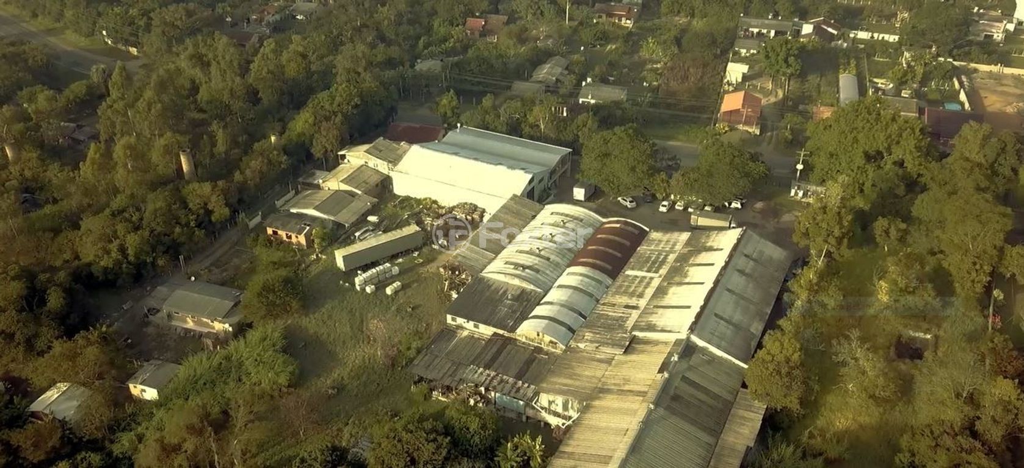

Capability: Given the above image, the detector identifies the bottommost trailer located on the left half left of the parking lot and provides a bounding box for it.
[335,224,423,276]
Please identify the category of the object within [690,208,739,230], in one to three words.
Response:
truck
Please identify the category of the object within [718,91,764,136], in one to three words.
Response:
house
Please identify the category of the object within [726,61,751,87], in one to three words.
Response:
shed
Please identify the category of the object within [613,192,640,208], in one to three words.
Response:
car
